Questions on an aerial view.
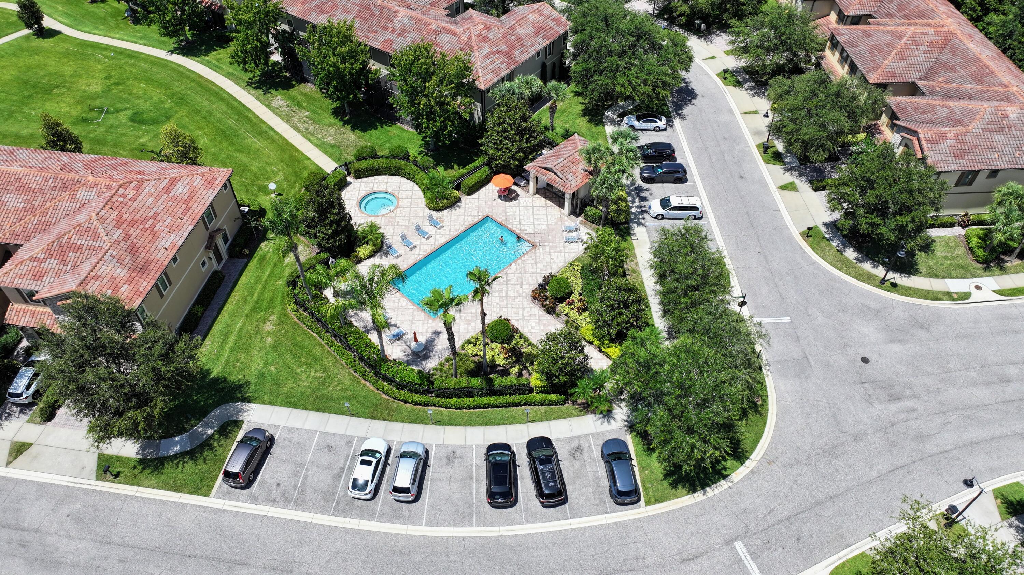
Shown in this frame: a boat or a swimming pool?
swimming pool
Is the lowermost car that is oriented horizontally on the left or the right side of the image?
right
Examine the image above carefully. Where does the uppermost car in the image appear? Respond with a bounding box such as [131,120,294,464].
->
[621,112,668,131]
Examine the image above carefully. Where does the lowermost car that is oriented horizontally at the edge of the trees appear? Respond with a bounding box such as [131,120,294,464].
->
[647,192,705,219]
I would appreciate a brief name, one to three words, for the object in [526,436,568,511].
car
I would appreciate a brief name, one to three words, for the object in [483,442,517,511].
car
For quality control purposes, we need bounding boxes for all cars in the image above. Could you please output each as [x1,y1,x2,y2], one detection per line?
[526,436,568,511]
[483,442,517,511]
[346,436,388,503]
[602,439,641,507]
[390,440,428,506]
[633,140,679,163]
[638,159,690,184]
[621,112,668,131]
[647,192,705,219]
[220,427,273,491]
